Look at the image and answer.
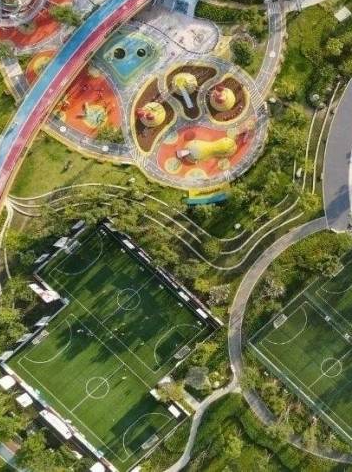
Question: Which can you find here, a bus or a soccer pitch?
soccer pitch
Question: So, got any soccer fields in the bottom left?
Yes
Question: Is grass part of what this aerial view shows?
Yes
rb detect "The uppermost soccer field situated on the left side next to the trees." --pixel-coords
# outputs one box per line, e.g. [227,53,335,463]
[36,221,222,383]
